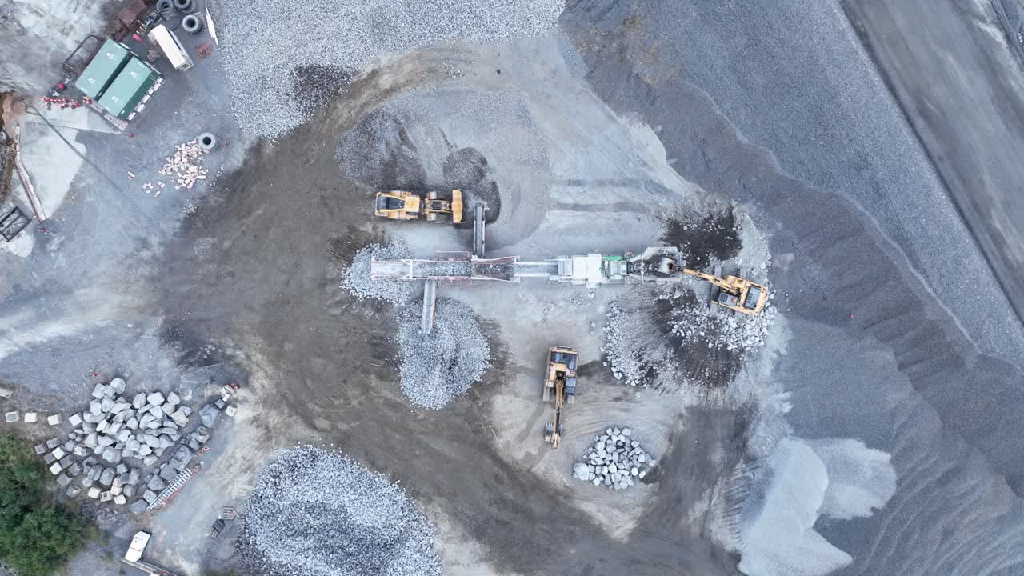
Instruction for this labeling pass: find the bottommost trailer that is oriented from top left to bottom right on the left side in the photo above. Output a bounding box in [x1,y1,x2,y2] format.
[148,25,193,73]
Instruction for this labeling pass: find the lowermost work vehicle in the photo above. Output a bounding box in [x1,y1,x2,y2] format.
[544,346,578,450]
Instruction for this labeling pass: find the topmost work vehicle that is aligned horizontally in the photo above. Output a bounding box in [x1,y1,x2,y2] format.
[375,189,466,223]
